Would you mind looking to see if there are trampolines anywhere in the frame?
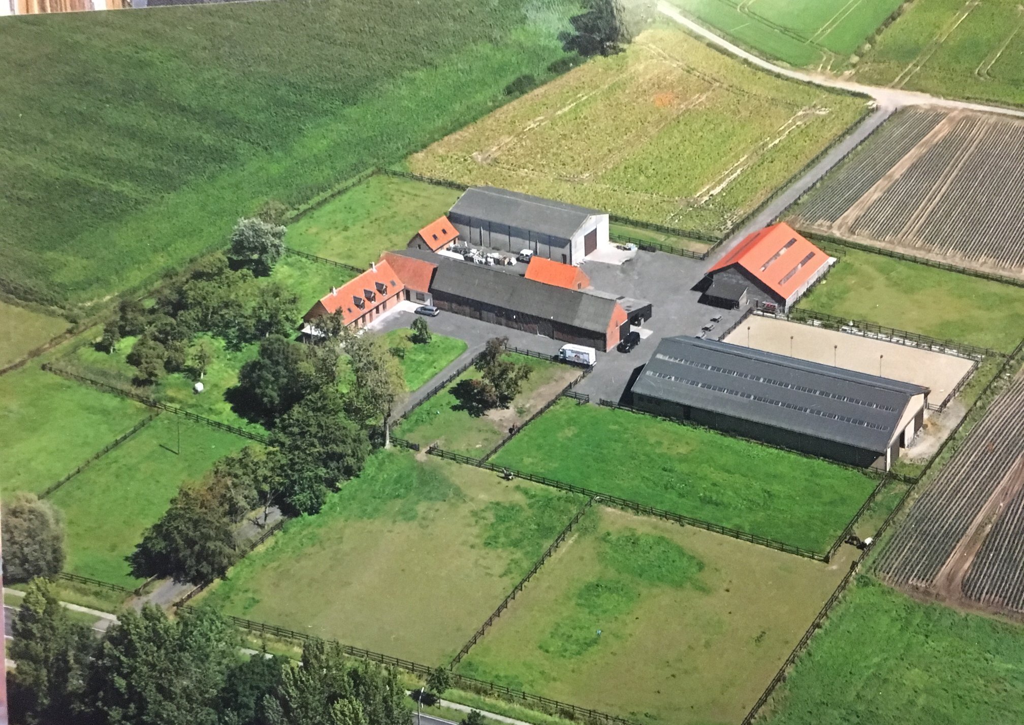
No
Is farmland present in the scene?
Yes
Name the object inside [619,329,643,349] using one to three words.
car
